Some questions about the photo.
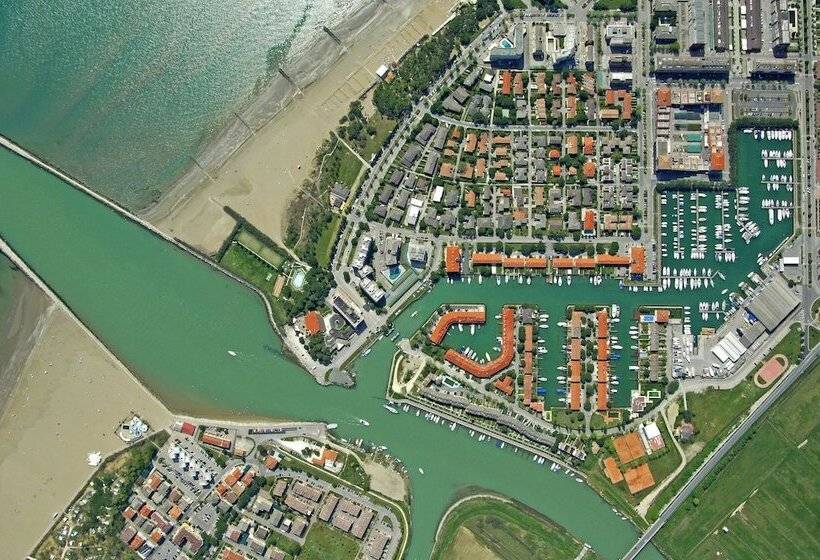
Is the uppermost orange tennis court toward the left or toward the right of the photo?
right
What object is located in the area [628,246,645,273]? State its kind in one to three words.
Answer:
house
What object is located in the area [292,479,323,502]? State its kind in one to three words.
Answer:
house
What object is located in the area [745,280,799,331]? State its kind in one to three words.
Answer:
shed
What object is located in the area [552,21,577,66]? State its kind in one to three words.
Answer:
building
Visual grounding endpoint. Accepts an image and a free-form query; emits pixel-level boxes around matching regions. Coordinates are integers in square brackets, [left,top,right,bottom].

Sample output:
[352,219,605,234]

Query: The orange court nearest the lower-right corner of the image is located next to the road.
[625,465,655,493]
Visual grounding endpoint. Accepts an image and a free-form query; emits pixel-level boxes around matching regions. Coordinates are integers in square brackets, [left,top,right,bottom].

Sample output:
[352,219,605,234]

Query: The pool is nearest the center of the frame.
[385,260,406,279]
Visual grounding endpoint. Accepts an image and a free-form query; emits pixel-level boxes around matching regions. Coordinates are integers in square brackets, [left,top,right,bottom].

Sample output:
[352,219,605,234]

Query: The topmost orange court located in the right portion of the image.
[614,433,645,462]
